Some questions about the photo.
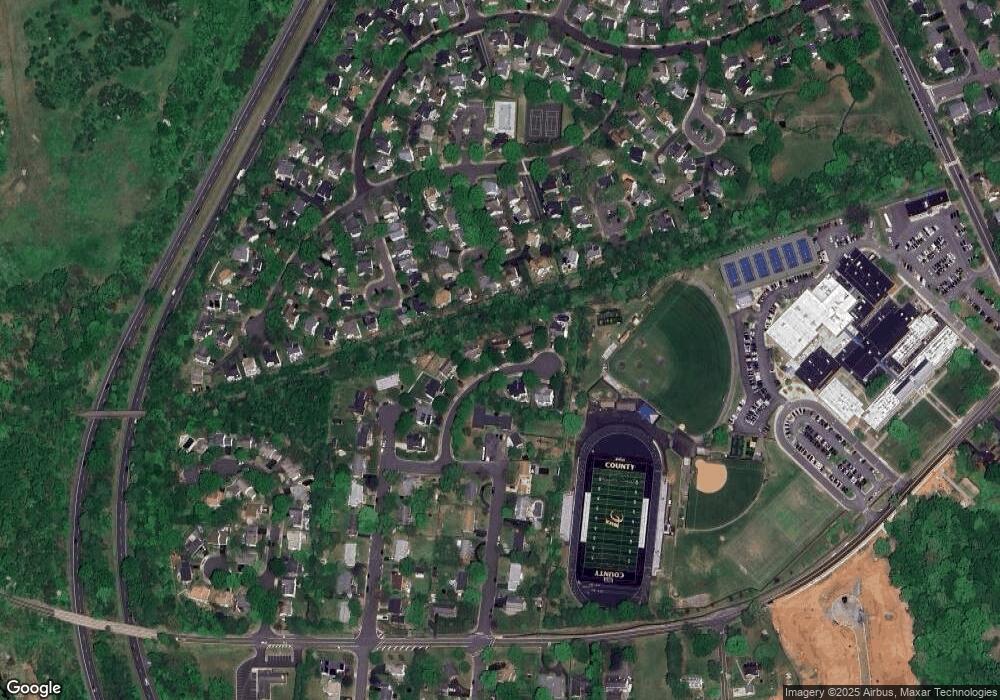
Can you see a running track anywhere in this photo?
Yes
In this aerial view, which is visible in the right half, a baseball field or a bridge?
baseball field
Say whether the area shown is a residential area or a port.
residential area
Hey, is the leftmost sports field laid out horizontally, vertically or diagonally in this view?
vertically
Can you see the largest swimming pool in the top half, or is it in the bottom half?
top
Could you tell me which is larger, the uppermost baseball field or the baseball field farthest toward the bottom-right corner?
the uppermost baseball field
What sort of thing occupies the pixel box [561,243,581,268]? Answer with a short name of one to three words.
house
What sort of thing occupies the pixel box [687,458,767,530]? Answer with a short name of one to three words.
baseball field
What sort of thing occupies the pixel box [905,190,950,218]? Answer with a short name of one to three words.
building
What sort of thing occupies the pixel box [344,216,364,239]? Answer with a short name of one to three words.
house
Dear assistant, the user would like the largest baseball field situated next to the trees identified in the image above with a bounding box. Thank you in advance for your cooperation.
[604,281,732,434]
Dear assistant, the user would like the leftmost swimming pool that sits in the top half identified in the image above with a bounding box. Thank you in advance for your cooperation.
[494,103,516,137]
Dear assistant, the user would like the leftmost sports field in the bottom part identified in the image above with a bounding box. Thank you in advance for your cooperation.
[580,455,649,585]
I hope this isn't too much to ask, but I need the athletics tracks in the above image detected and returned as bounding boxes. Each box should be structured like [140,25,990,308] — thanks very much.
[568,424,662,607]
